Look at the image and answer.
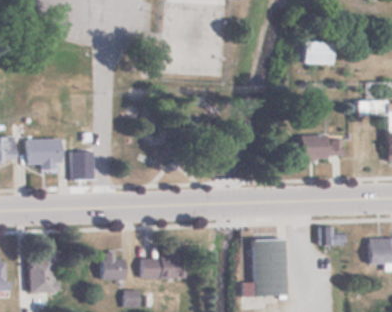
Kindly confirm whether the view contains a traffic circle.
No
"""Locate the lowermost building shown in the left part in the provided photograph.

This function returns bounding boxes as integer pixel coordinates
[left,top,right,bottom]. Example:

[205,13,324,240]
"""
[123,290,142,309]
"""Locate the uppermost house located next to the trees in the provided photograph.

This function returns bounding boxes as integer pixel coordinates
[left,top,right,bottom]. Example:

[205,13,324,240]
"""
[304,42,336,66]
